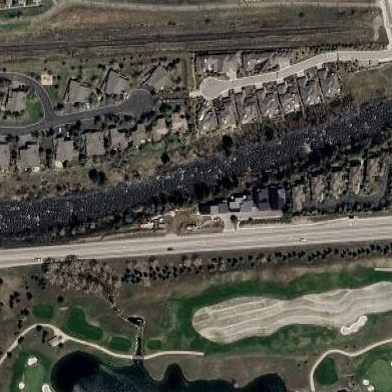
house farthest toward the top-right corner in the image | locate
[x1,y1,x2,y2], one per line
[319,71,342,96]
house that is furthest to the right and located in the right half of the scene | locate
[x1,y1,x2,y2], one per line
[364,159,384,186]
